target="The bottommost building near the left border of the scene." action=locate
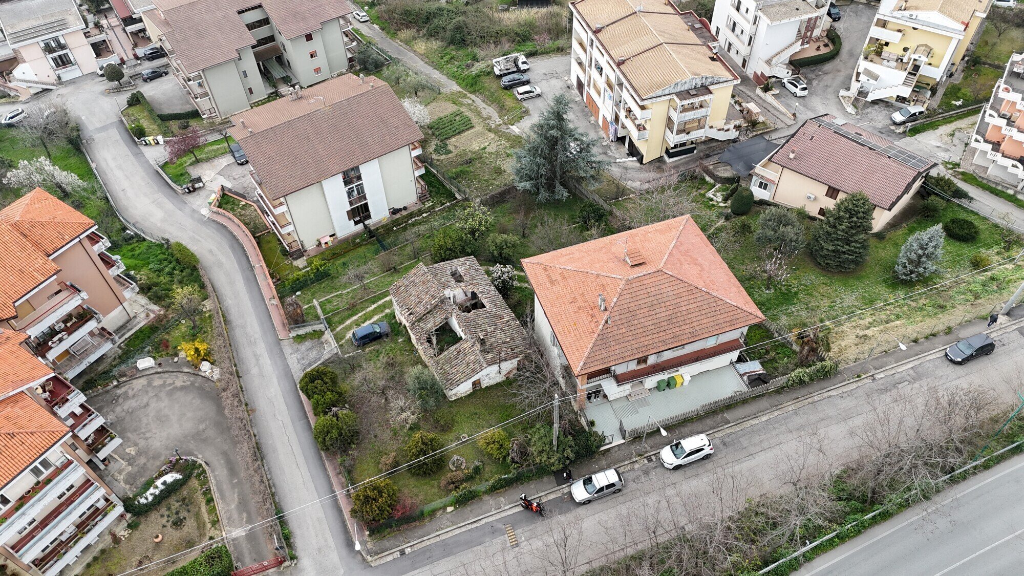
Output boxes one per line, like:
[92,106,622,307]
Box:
[0,189,163,576]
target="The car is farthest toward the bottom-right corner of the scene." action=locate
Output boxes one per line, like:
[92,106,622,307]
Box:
[950,335,1006,367]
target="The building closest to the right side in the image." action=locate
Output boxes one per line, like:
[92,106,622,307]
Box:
[960,66,1024,181]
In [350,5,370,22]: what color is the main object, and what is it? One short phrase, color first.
white car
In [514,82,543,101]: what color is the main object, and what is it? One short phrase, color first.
white car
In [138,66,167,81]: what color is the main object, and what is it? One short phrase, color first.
gray car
